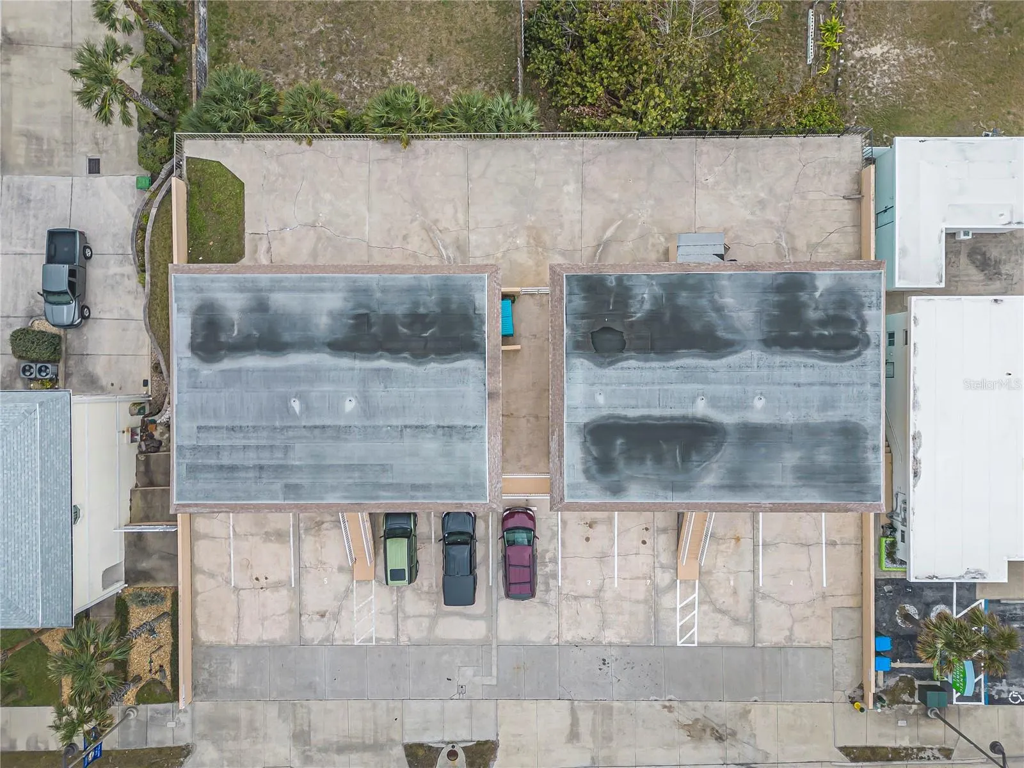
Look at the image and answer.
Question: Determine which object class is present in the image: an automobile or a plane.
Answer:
automobile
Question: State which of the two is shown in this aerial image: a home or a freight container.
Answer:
home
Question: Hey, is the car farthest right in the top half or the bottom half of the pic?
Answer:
bottom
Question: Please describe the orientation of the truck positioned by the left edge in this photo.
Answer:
up and down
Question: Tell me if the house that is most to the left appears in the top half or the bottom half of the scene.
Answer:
bottom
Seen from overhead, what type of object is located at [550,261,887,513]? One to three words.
building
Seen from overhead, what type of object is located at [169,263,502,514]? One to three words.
building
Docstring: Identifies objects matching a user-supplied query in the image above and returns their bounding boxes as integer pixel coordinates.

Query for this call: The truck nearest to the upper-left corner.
[42,229,92,330]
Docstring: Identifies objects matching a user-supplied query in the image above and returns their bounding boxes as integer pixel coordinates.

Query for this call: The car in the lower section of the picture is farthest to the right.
[498,504,542,600]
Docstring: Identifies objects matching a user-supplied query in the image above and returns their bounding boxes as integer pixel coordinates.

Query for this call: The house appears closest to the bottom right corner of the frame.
[886,295,1024,584]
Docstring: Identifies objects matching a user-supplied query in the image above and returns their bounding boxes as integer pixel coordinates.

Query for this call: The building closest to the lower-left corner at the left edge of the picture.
[0,390,148,631]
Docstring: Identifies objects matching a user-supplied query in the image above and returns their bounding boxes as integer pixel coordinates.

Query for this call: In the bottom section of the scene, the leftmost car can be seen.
[378,513,421,587]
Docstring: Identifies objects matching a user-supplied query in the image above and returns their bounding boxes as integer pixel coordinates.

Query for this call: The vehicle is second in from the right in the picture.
[438,513,480,604]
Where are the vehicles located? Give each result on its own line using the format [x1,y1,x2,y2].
[378,513,421,587]
[438,513,480,604]
[498,504,542,600]
[42,229,92,330]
